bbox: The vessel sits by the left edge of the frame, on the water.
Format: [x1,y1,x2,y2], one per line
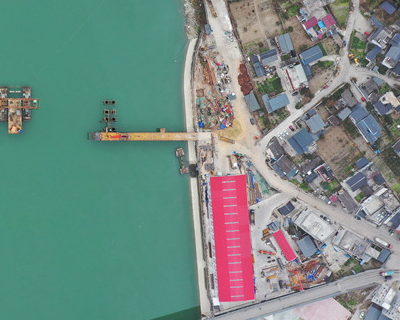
[0,86,40,133]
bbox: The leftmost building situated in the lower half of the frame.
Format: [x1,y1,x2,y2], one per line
[205,174,255,302]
